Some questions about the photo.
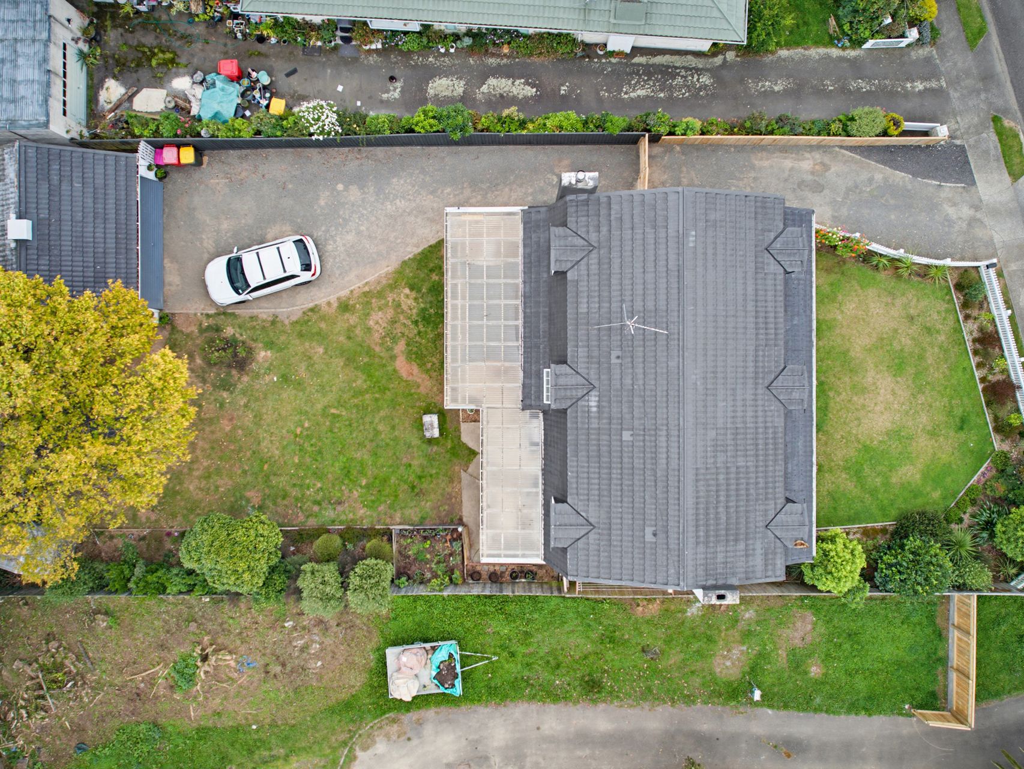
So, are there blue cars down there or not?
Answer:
No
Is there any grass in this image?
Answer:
Yes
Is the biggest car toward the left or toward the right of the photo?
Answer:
left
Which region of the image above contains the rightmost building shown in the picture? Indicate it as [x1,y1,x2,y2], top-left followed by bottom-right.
[521,168,819,603]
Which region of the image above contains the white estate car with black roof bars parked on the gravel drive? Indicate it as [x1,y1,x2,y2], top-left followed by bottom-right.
[205,237,322,305]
